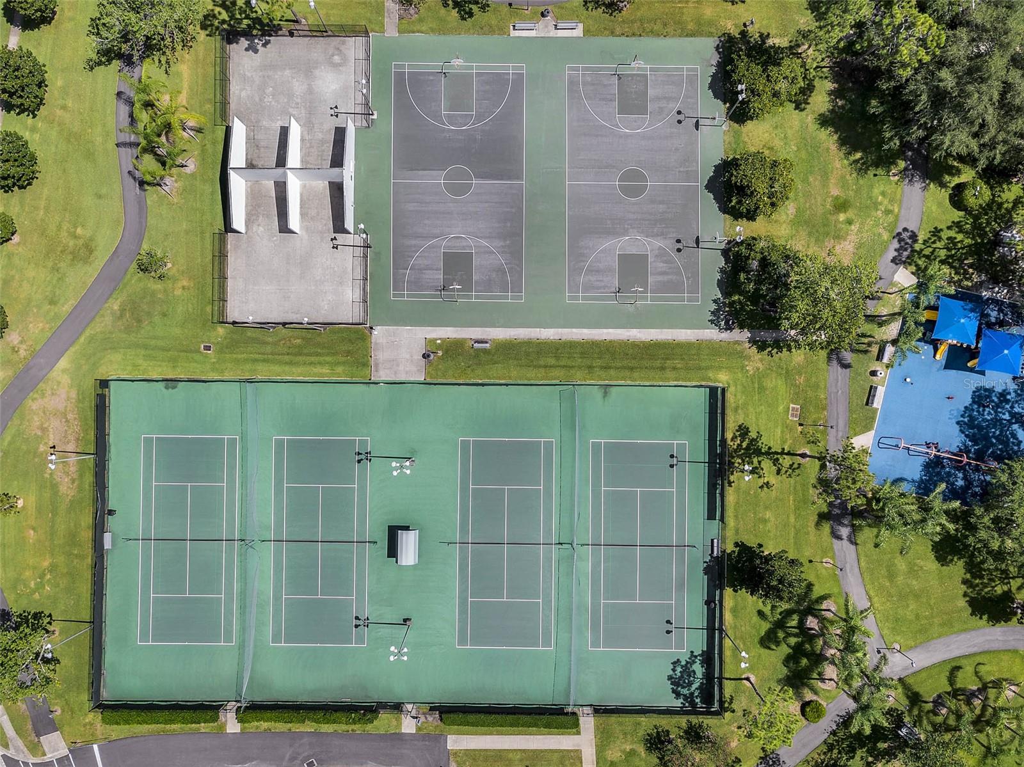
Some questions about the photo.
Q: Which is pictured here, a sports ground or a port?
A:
sports ground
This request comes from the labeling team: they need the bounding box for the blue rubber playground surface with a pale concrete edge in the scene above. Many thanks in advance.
[862,286,1024,515]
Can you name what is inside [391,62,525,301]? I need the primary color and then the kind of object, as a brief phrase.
gray basketball court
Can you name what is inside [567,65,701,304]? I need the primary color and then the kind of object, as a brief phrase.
gray basketball court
